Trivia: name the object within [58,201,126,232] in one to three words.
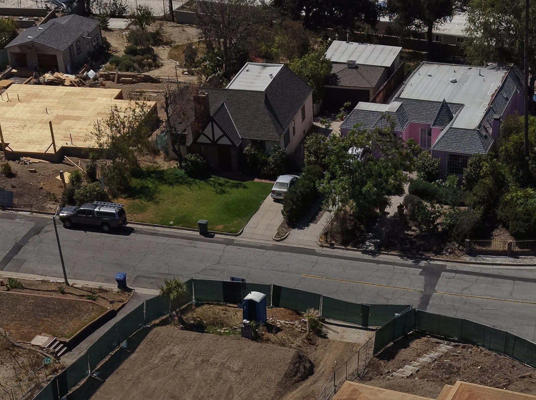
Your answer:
truck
